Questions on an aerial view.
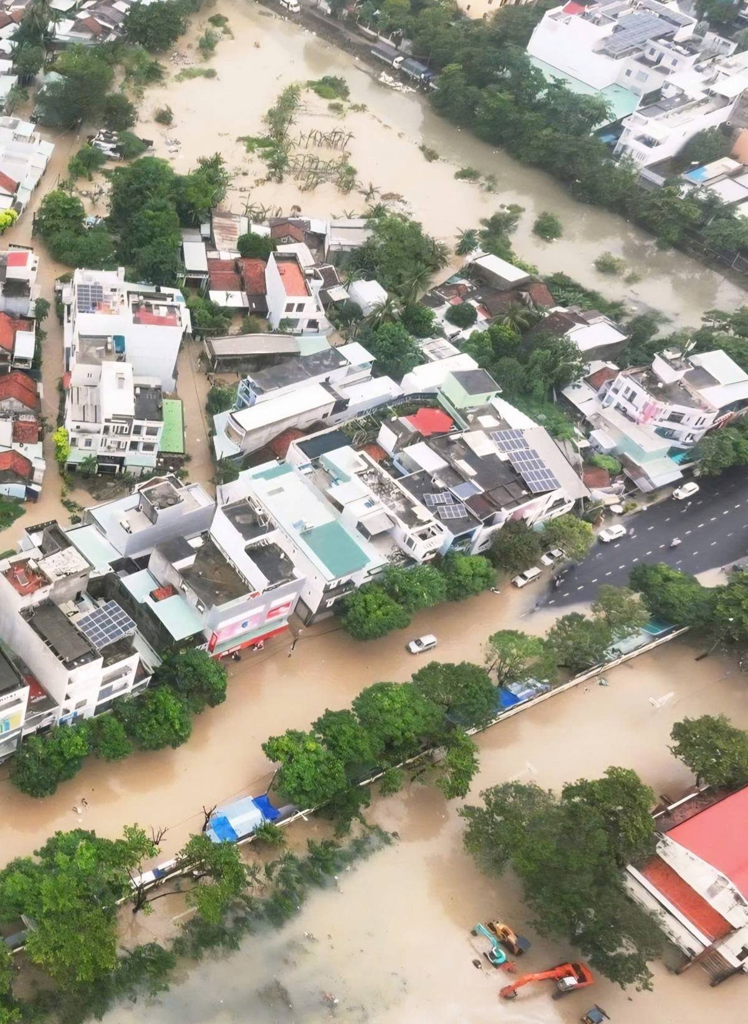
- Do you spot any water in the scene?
Yes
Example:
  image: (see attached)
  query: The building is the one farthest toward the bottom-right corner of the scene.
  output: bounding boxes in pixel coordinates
[637,785,748,988]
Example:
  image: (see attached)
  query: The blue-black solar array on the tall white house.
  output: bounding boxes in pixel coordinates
[77,285,103,315]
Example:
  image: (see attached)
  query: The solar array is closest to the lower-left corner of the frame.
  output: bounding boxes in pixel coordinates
[75,600,137,651]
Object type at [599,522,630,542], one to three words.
car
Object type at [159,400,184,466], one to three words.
shed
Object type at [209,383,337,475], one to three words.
house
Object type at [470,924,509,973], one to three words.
work vehicle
